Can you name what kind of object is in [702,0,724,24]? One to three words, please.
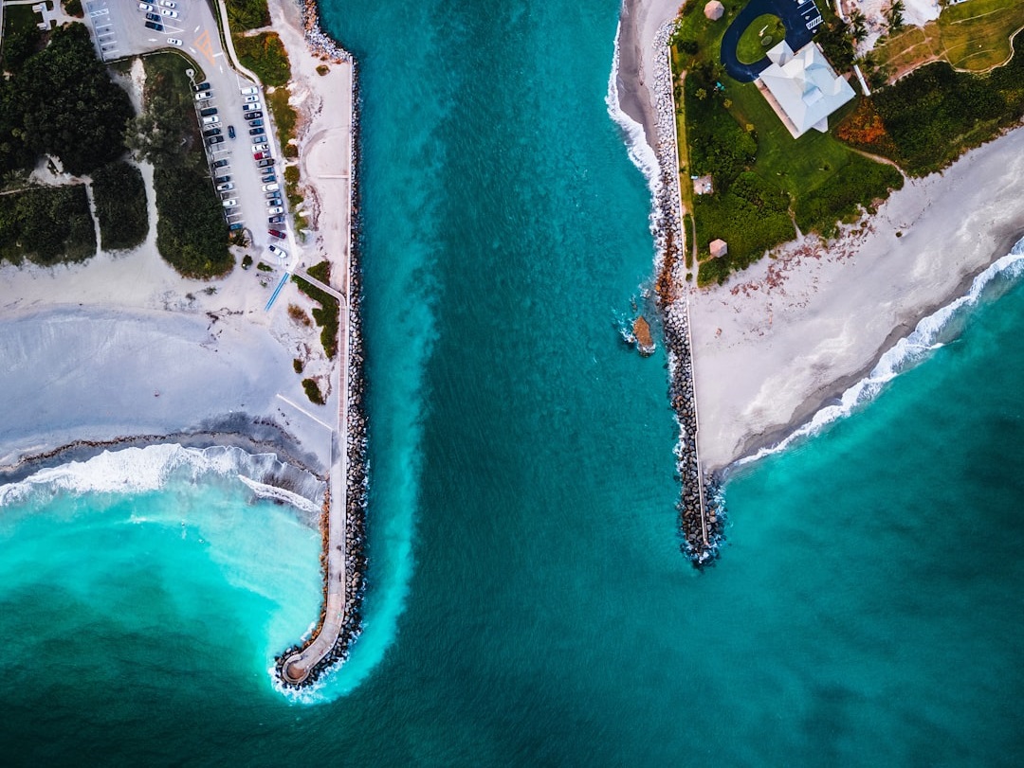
gazebo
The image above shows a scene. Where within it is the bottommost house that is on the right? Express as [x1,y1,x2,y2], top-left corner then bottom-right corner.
[752,40,856,139]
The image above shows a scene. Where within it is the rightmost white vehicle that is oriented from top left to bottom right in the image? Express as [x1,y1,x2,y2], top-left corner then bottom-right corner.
[269,244,288,258]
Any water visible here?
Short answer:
Yes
